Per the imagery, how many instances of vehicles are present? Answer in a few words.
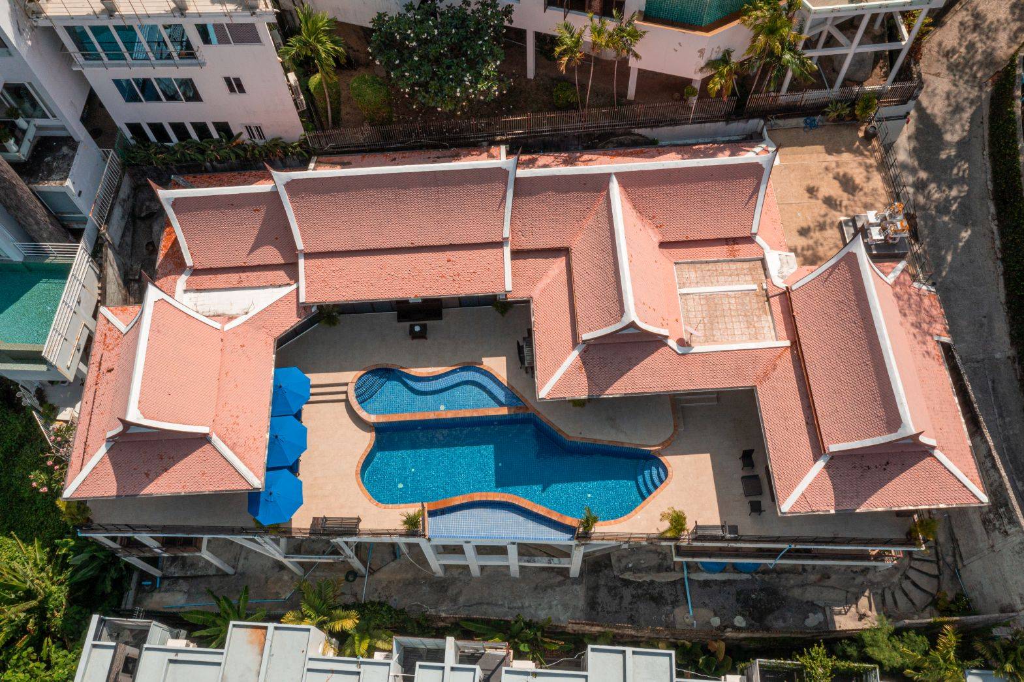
0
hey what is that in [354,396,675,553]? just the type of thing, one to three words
swimming pool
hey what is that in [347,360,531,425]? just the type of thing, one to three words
swimming pool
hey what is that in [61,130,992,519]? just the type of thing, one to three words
house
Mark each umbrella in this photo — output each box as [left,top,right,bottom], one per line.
[271,415,315,471]
[276,364,318,418]
[241,468,311,533]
